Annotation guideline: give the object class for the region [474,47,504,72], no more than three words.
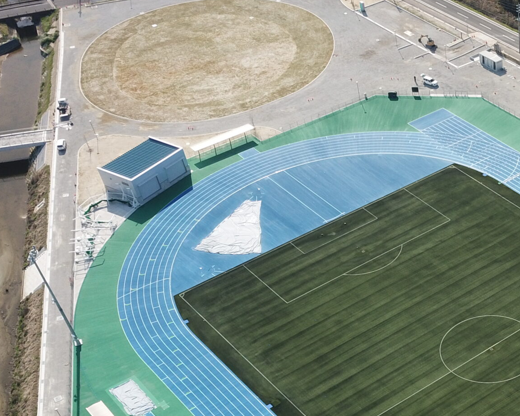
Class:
building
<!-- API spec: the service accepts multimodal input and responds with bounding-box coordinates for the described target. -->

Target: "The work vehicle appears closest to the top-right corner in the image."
[422,25,437,46]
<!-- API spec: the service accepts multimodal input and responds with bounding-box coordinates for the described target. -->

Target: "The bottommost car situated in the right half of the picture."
[420,73,443,87]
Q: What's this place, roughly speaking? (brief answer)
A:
sports ground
